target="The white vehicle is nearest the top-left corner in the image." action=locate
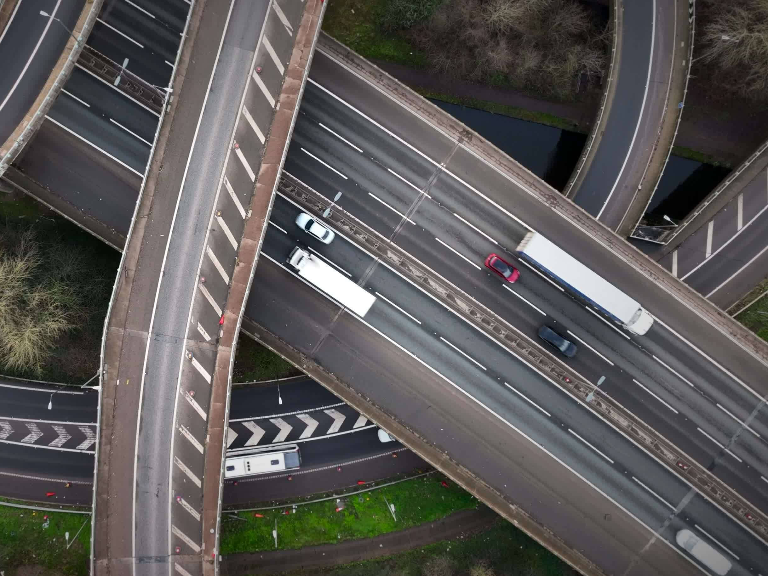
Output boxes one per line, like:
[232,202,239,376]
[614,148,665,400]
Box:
[294,212,334,244]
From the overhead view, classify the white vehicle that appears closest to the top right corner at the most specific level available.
truck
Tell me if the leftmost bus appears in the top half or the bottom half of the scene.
bottom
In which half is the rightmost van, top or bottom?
bottom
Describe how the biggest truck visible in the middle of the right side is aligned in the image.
diagonally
